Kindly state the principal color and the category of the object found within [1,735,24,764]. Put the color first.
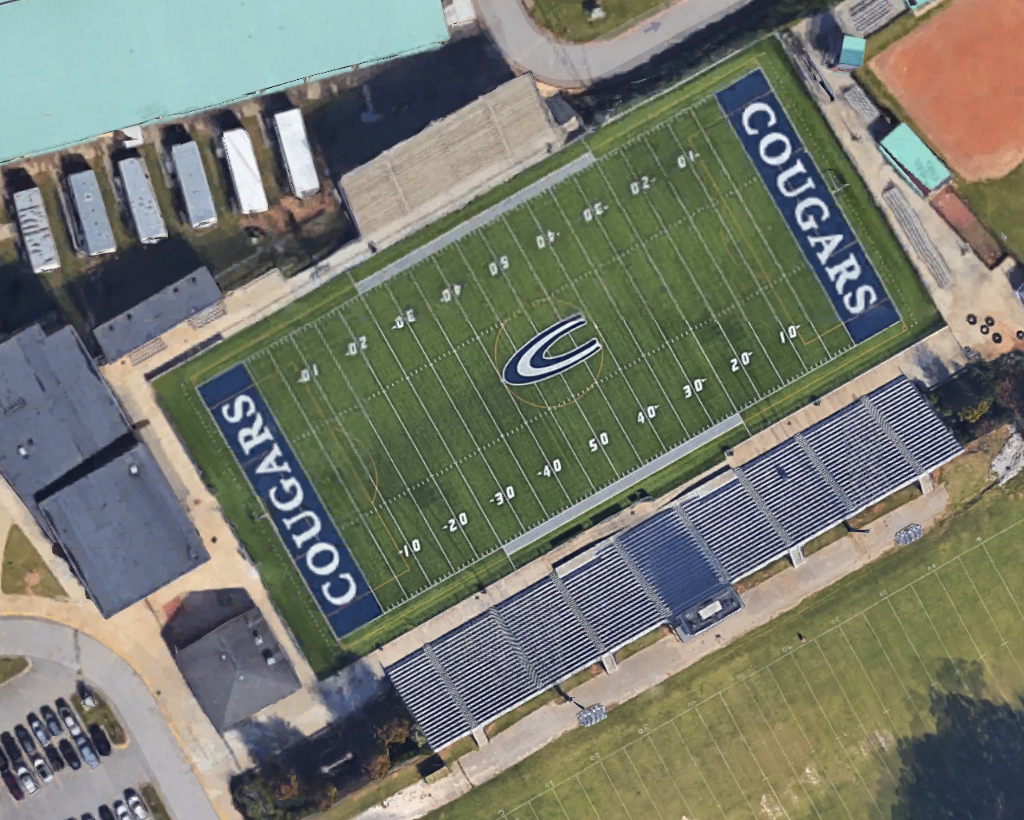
black car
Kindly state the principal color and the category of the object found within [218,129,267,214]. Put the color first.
white trailer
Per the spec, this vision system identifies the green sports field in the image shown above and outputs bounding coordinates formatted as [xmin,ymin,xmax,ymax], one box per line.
[151,34,944,679]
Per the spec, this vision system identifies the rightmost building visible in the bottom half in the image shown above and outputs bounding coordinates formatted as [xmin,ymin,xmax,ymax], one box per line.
[175,606,302,733]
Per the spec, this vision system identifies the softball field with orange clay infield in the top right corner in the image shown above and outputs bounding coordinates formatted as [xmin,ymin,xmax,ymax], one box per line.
[866,0,1024,255]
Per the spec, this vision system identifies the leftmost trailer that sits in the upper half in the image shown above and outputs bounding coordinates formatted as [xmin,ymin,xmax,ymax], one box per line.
[11,186,61,273]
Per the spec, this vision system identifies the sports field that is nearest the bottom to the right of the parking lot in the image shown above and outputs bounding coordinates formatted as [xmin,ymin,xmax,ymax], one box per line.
[423,484,1024,820]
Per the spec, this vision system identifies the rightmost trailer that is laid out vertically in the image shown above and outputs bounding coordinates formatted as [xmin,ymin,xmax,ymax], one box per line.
[269,109,320,198]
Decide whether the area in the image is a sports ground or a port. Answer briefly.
sports ground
